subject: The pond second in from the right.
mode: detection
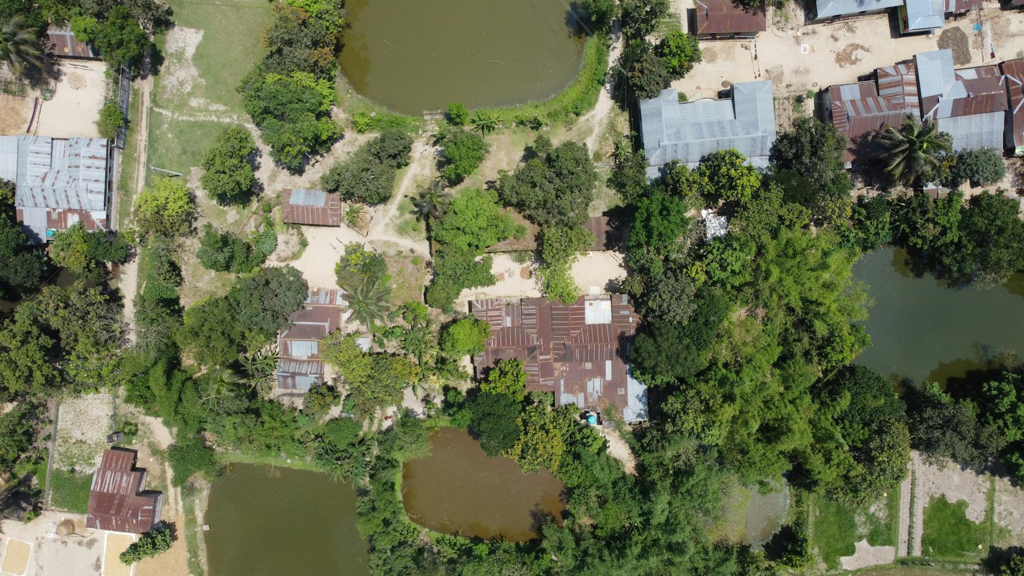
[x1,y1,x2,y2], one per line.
[734,476,791,549]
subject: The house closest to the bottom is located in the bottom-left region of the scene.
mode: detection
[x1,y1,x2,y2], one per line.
[86,448,162,533]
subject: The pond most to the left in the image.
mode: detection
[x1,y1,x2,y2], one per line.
[206,461,380,576]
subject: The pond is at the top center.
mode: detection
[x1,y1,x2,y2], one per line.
[338,0,590,117]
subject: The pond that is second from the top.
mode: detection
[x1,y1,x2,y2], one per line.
[851,232,1024,393]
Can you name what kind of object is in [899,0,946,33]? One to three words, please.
house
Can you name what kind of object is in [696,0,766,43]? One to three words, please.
house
